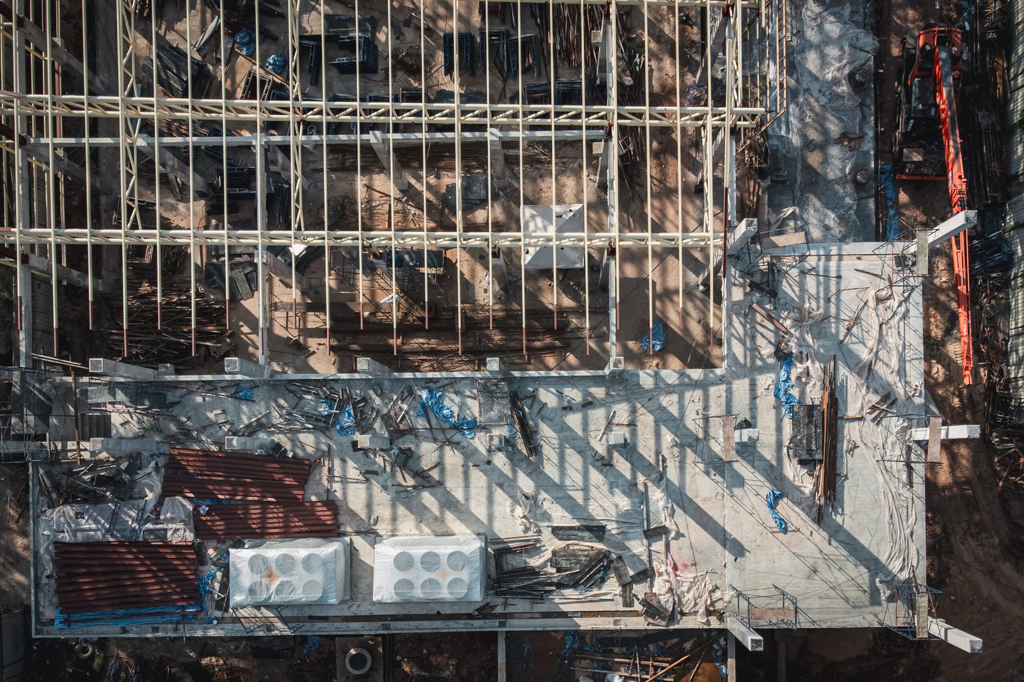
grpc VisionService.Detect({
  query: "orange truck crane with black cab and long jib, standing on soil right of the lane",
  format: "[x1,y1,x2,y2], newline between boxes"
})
[890,22,973,384]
